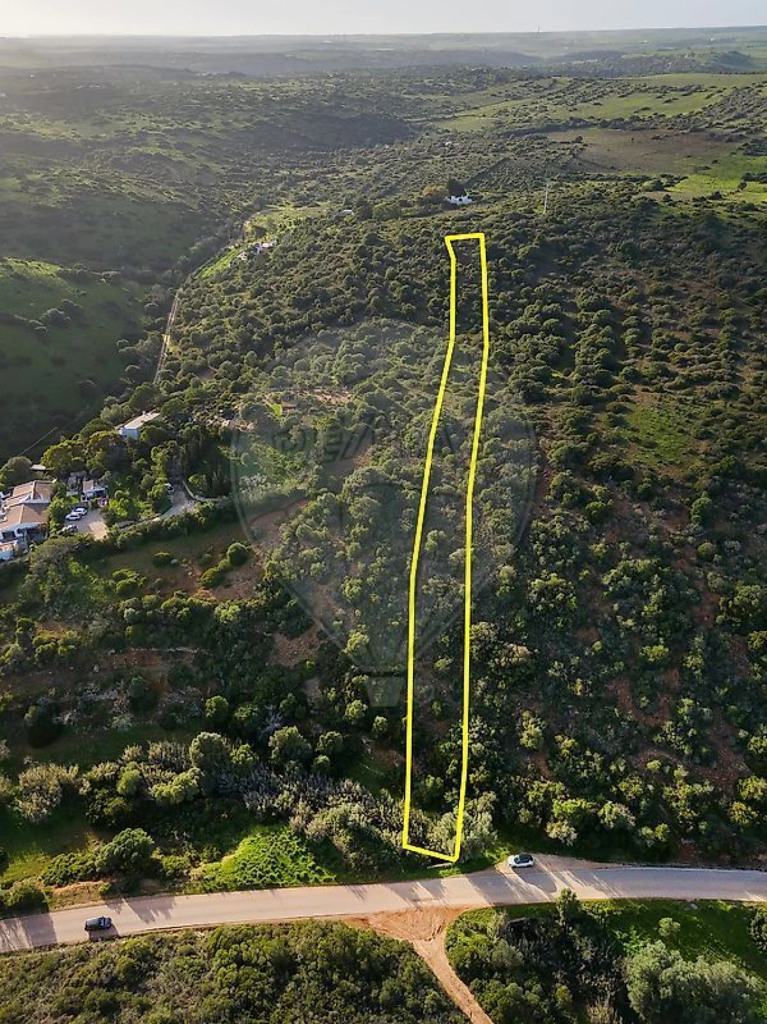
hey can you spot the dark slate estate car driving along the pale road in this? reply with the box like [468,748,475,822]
[83,919,113,935]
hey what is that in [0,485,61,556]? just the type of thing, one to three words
house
